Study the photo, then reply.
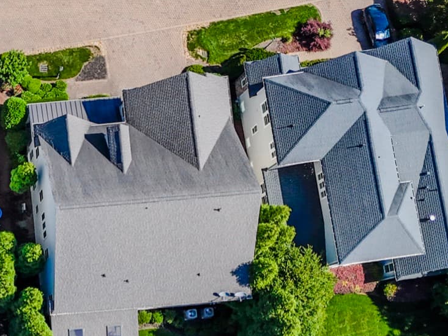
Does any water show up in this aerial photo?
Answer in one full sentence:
No, no water is visible.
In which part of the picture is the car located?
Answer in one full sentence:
The car appears toward the top right of the photo.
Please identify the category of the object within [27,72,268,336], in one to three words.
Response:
house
